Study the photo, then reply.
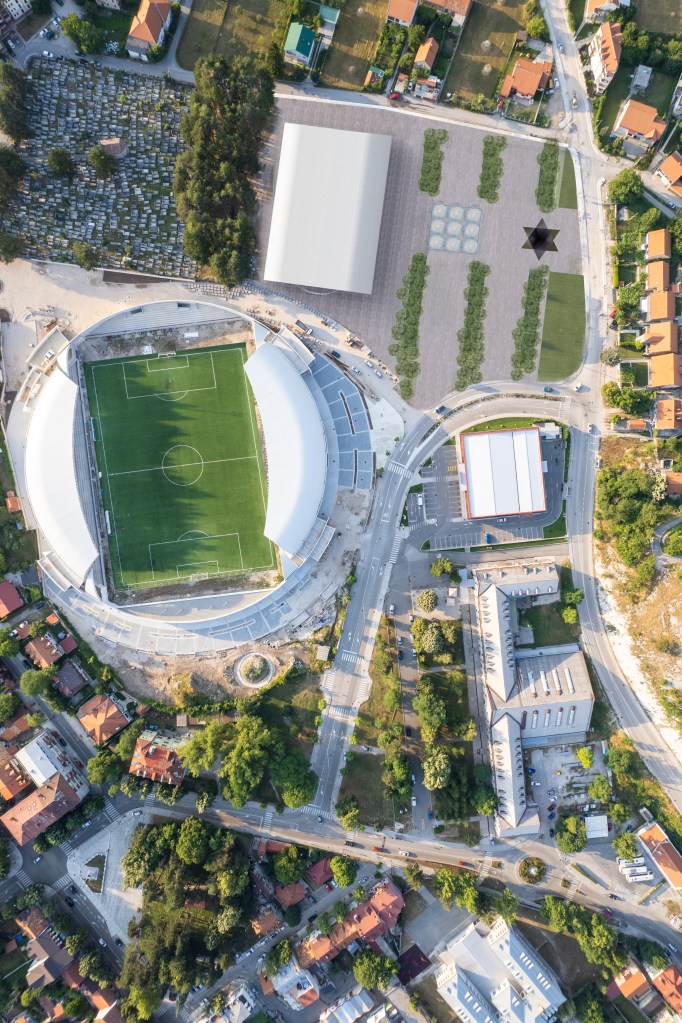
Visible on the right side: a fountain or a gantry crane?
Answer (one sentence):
Visible on the right side is a fountain.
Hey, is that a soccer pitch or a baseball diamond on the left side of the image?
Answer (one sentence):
The one visible on the left side of the image is a soccer pitch.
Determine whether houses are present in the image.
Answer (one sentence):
Yes, there's a house here.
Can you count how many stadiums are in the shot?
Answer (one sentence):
Altogether the scene contains 1 stadium.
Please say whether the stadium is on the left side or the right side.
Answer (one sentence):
You can find the stadium on the left side of the picture.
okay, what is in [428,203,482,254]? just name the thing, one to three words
fountain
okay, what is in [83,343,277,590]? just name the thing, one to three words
soccer field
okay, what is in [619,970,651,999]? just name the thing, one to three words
house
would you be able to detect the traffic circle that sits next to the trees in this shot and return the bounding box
[514,852,551,889]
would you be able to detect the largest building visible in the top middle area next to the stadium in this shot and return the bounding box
[264,122,391,295]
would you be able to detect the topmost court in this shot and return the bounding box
[406,887,471,956]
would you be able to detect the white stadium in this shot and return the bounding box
[9,300,376,656]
